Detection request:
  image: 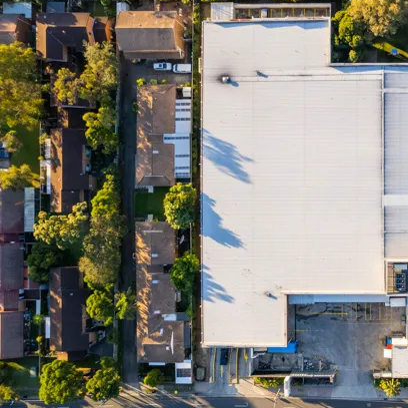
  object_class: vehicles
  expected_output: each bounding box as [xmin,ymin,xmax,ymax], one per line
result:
[218,348,230,369]
[171,62,194,73]
[152,60,173,71]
